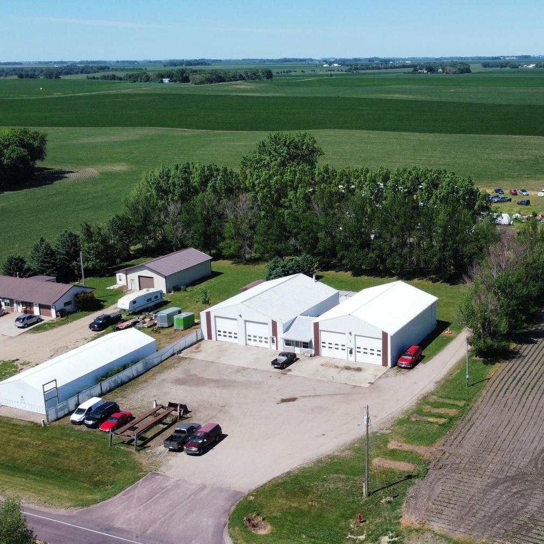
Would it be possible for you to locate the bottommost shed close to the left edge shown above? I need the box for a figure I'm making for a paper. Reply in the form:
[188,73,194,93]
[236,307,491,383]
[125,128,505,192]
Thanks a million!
[0,329,153,414]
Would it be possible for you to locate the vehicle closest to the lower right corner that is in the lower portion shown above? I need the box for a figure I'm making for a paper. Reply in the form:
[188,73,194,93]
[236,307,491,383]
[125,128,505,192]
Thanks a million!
[399,346,421,368]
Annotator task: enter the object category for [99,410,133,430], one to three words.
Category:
car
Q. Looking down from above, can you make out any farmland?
Yes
